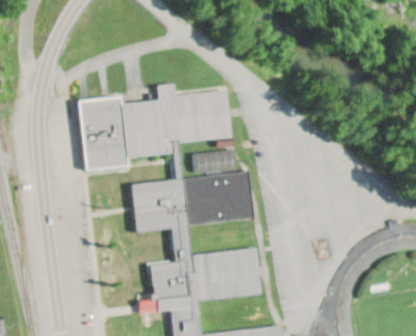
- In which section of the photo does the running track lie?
bottom right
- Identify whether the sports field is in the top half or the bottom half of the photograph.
bottom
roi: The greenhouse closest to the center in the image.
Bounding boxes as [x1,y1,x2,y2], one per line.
[192,150,238,173]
